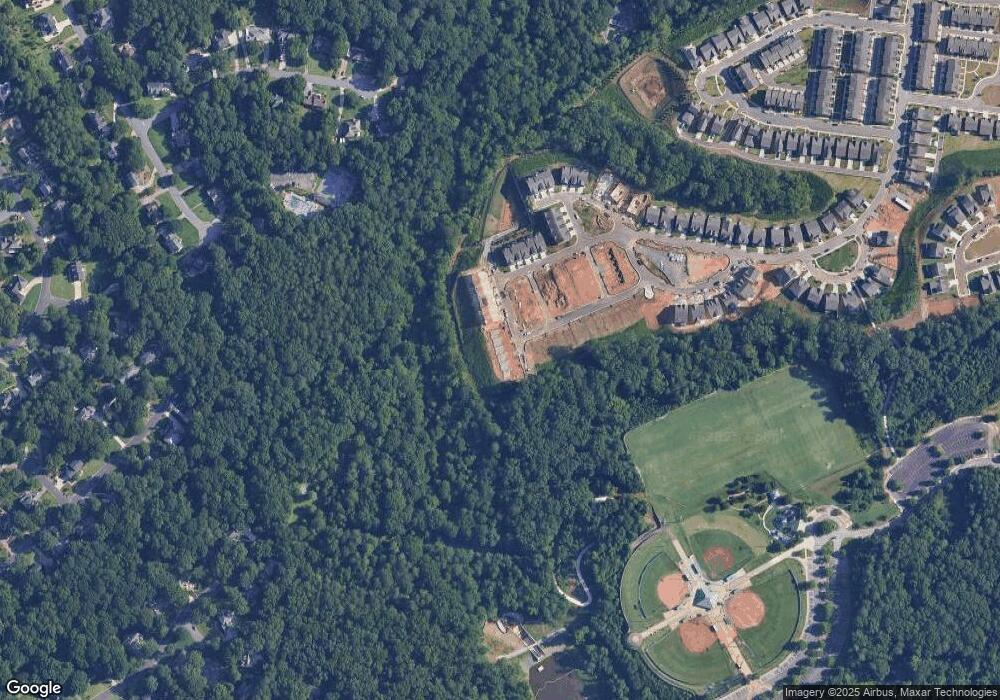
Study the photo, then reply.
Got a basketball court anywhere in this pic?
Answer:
No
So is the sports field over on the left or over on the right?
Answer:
right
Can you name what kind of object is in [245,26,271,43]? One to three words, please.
house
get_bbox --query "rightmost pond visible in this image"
[529,652,590,700]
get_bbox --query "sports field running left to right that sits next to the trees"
[626,365,885,521]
